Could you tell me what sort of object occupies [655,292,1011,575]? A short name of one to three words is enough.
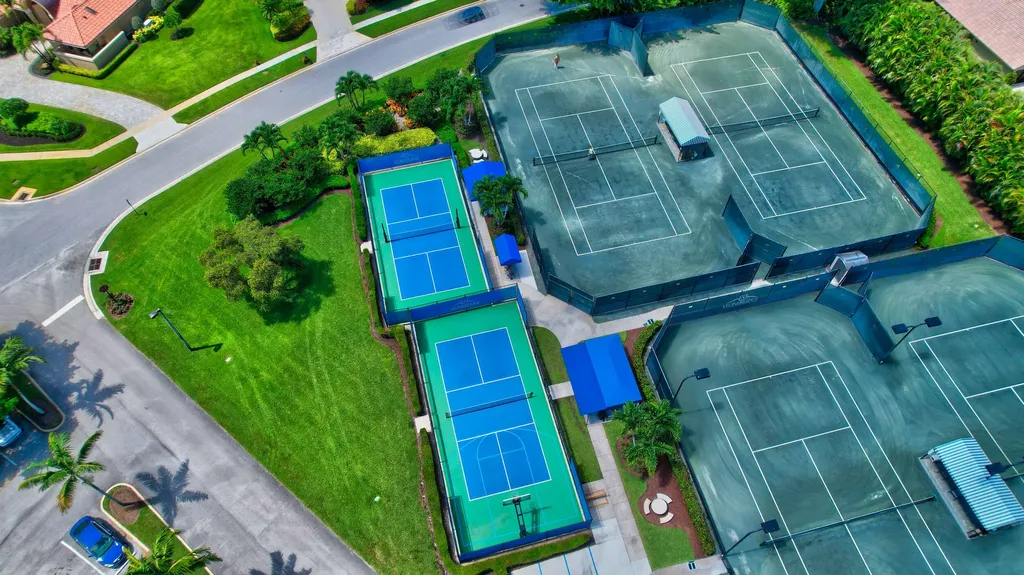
tennis court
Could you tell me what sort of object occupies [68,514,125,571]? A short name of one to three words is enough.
car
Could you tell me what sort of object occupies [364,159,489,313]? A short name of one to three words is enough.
sports court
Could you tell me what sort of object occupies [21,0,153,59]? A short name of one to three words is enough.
house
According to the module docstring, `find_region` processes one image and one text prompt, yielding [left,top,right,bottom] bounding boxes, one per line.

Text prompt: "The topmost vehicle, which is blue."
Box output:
[453,6,490,28]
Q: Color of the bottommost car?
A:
blue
